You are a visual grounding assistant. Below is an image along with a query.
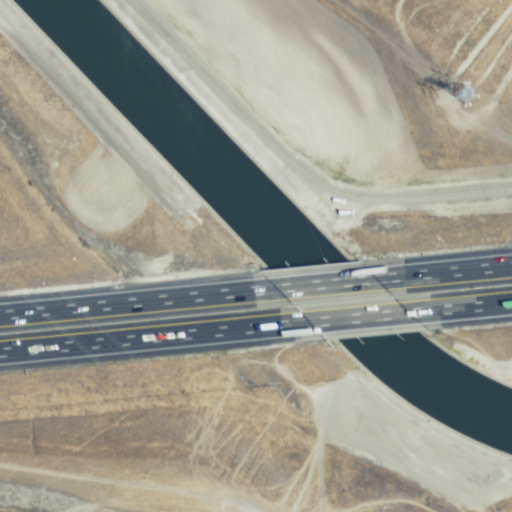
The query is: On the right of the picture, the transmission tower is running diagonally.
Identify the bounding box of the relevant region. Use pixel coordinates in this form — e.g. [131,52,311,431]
[456,77,481,108]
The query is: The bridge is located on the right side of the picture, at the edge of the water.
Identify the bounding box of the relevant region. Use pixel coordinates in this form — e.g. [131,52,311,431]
[257,257,441,345]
